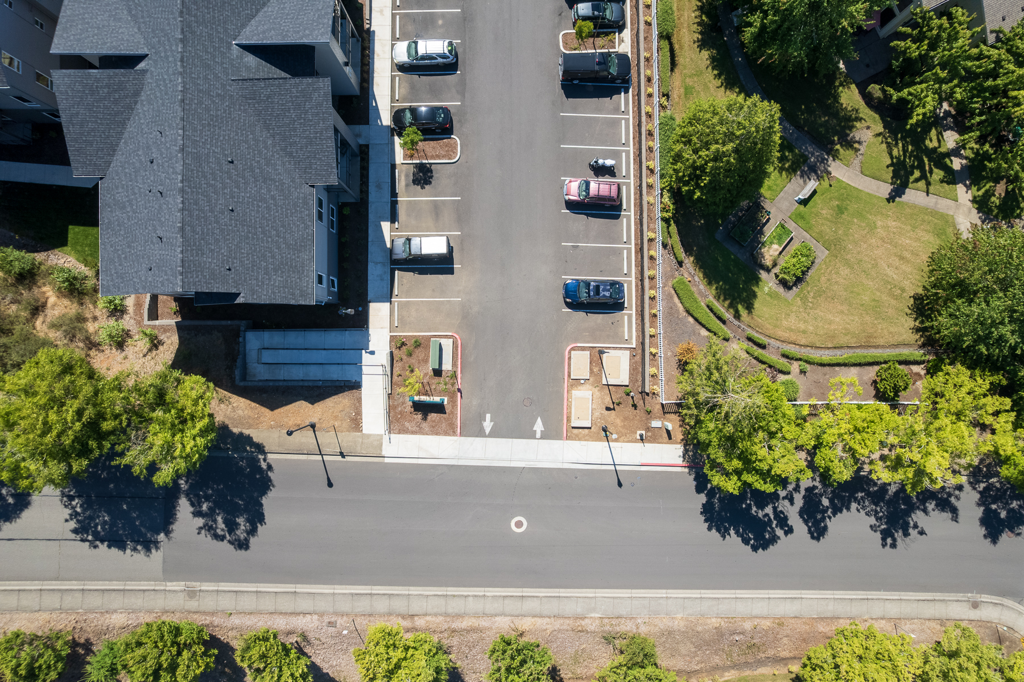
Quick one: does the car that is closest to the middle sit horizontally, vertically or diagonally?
horizontally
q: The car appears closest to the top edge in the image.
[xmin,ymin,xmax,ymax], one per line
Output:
[571,0,625,29]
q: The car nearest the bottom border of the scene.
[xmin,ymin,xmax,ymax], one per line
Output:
[562,277,624,305]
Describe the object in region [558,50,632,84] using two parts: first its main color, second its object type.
black truck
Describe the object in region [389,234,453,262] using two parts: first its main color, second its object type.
white car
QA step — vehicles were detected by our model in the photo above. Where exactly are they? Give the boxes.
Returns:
[393,37,457,68]
[571,0,625,29]
[561,176,622,206]
[590,155,617,166]
[558,50,632,84]
[389,234,453,262]
[562,277,624,305]
[392,103,452,133]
